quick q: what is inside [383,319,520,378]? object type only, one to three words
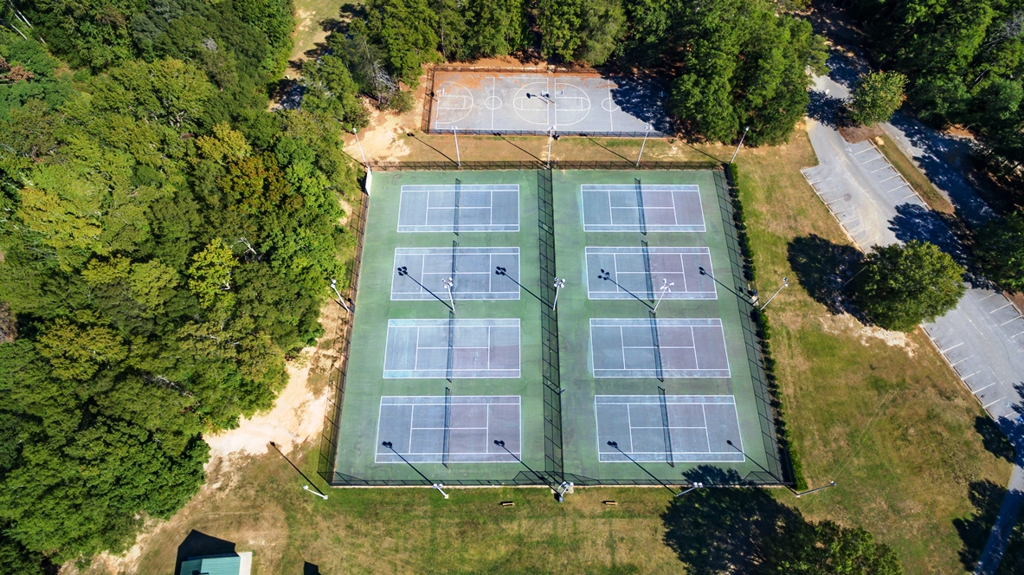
tennis court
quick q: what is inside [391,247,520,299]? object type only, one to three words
tennis court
